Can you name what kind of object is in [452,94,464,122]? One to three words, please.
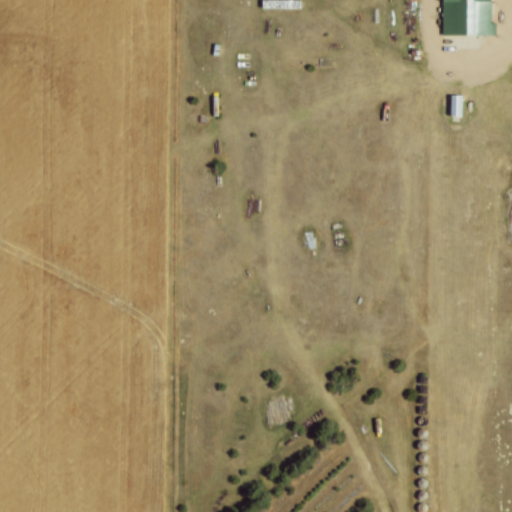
shed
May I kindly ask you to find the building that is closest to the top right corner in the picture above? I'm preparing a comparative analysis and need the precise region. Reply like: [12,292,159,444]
[444,0,498,36]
